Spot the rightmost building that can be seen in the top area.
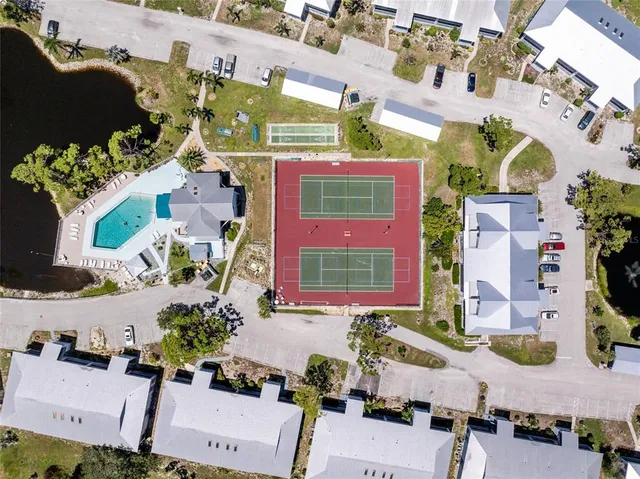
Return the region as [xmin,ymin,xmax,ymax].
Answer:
[518,0,640,114]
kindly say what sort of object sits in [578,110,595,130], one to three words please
car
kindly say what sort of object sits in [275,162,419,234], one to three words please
tennis court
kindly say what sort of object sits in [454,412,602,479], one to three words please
house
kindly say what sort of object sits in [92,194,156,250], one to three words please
swimming pool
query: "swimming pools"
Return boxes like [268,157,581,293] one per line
[92,194,156,250]
[157,192,171,218]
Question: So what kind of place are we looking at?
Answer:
residential area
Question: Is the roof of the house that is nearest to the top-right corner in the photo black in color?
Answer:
No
